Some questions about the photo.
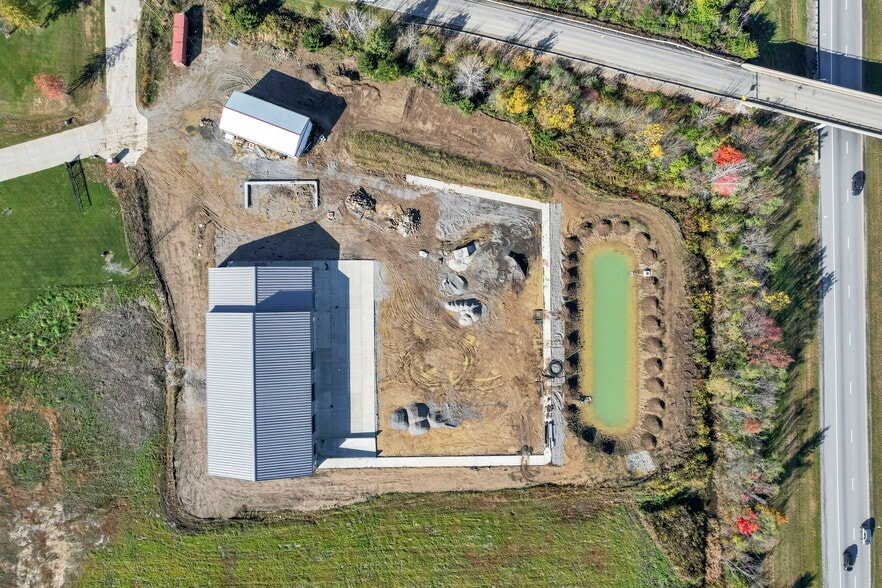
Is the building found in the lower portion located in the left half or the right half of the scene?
left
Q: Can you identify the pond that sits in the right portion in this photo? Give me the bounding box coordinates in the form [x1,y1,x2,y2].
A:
[578,241,641,441]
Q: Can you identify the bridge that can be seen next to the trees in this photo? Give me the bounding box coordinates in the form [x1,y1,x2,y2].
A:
[743,60,882,141]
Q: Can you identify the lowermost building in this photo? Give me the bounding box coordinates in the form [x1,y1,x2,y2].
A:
[207,266,319,482]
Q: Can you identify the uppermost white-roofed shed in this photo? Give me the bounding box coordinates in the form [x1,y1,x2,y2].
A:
[220,91,312,159]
